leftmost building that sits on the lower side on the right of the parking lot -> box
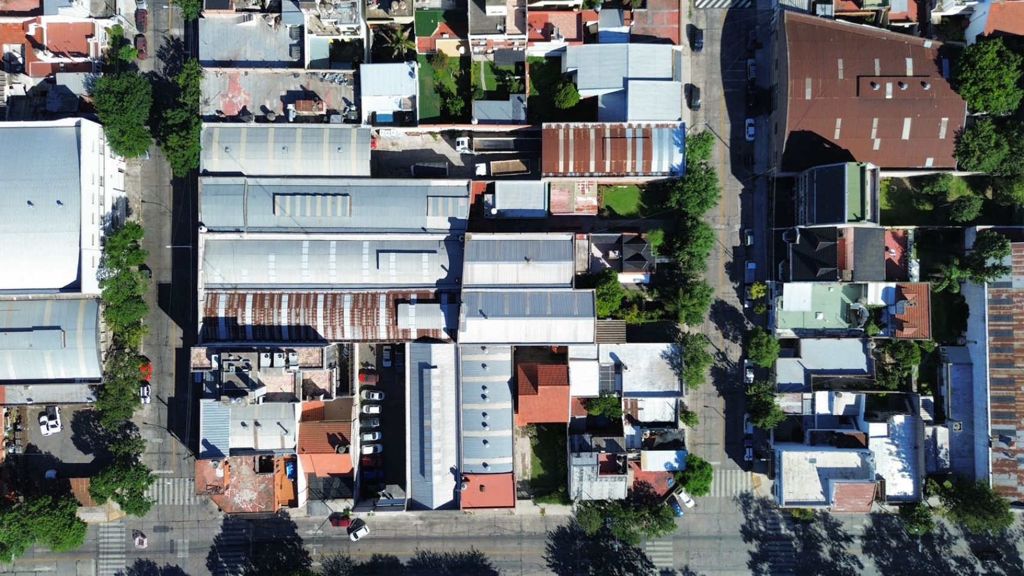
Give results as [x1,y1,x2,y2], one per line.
[405,342,461,510]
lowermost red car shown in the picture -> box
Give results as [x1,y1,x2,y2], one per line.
[331,516,352,528]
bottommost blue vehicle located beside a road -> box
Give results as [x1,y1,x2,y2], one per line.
[667,497,684,518]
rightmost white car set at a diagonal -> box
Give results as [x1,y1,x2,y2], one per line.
[675,487,695,510]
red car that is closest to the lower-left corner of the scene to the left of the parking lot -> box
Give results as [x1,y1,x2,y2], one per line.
[141,360,153,381]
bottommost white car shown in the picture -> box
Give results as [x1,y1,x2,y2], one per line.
[348,523,371,541]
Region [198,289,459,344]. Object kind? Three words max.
building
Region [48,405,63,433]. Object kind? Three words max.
vehicle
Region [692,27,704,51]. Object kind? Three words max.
vehicle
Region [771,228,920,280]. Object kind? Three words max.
house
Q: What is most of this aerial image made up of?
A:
buildings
